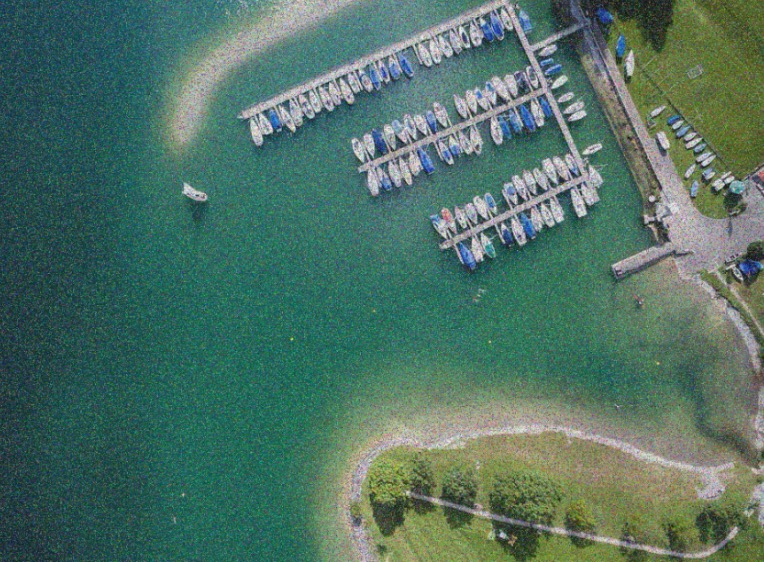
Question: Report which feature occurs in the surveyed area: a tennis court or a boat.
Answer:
boat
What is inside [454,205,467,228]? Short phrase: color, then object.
white boat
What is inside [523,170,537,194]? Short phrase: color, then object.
white boat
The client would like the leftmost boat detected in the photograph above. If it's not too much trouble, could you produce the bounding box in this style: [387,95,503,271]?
[183,184,209,201]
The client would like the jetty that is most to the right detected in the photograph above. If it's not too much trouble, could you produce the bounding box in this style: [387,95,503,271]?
[610,240,677,278]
